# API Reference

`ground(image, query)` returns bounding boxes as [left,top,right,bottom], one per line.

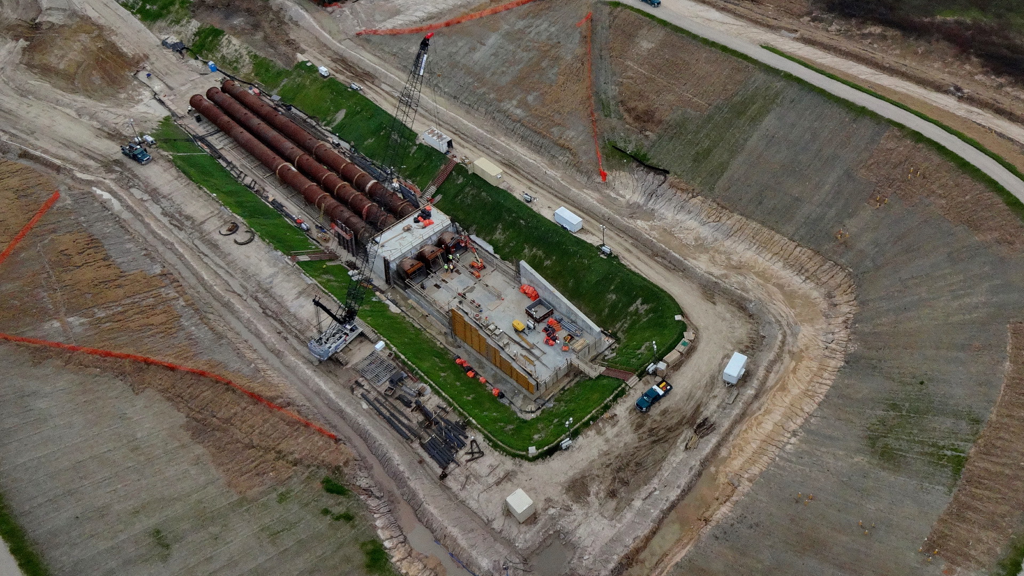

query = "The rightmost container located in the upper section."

[472,157,504,187]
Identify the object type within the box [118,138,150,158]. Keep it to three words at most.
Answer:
vehicle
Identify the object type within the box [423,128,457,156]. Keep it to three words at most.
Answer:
shipping container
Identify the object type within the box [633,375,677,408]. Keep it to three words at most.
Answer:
truck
